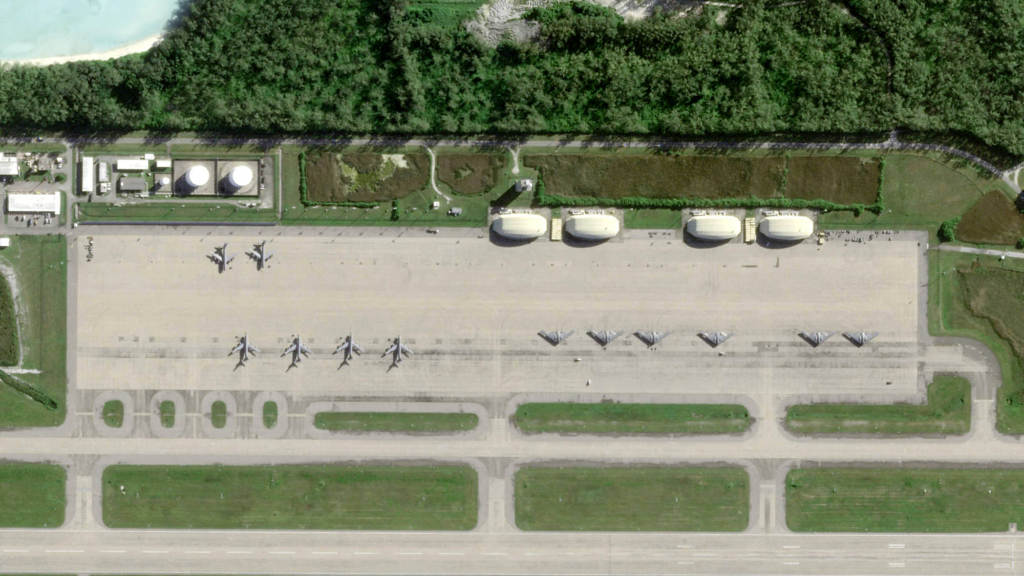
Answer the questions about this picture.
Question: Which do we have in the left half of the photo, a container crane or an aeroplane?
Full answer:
What appears in the left half of the photo is an aeroplane.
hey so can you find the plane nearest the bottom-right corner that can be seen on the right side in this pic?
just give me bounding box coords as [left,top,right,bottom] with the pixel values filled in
[847,330,879,344]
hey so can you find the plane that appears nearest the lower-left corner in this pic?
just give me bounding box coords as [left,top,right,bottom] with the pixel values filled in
[234,334,260,362]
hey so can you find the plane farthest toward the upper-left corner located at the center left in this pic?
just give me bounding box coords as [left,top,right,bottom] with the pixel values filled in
[212,242,238,271]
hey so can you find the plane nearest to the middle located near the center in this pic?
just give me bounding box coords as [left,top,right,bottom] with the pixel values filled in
[541,329,574,344]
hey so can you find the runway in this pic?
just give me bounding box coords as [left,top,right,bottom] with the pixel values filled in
[0,529,1024,575]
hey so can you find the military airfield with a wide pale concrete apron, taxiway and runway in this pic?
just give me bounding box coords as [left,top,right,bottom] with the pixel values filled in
[0,207,1024,576]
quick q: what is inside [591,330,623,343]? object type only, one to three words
airplane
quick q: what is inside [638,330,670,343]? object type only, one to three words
airplane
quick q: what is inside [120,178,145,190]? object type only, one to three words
building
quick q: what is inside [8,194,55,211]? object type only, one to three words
building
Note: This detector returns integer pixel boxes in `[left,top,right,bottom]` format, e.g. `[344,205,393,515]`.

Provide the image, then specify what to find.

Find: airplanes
[212,242,238,271]
[234,334,260,362]
[339,334,364,362]
[803,330,834,344]
[387,336,413,364]
[541,329,574,344]
[591,330,623,343]
[251,240,276,268]
[638,330,670,343]
[286,336,312,364]
[847,330,879,344]
[702,331,733,345]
